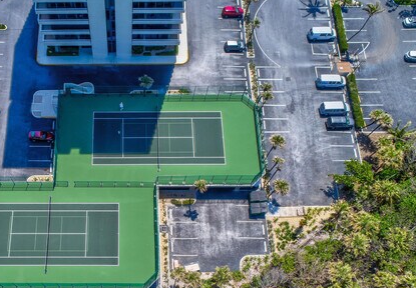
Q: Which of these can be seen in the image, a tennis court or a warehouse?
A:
tennis court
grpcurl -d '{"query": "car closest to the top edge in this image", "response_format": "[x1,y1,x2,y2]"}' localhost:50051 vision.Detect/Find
[218,4,241,16]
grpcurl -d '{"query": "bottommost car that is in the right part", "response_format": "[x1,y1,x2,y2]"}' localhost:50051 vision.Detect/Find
[326,117,353,130]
